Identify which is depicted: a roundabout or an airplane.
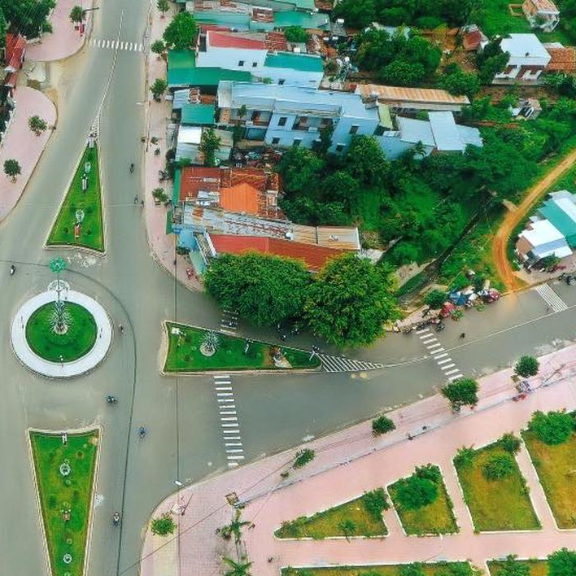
roundabout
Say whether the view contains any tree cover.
Yes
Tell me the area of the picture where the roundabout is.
left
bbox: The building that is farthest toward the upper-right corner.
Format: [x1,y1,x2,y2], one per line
[515,0,561,31]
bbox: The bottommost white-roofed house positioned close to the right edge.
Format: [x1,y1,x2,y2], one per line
[507,219,573,266]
